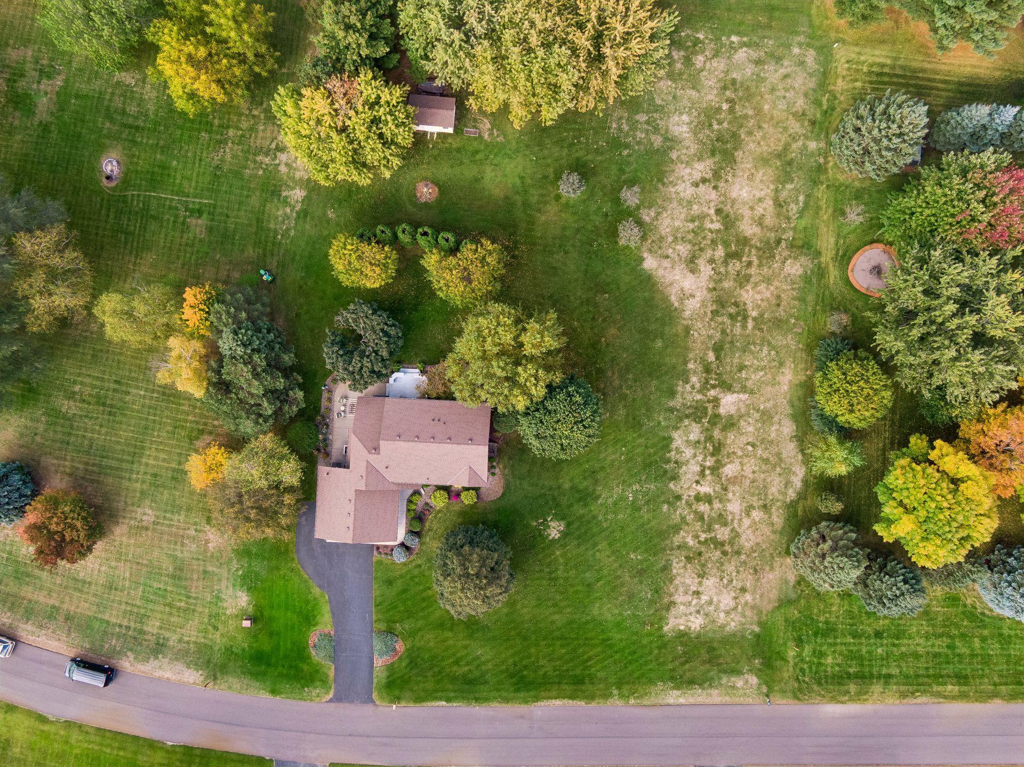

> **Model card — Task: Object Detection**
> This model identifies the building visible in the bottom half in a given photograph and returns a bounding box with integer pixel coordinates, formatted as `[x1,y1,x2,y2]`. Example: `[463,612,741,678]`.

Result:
[314,396,491,544]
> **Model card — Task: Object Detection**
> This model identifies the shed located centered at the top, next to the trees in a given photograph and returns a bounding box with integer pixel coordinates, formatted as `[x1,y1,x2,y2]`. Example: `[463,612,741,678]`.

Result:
[409,94,456,134]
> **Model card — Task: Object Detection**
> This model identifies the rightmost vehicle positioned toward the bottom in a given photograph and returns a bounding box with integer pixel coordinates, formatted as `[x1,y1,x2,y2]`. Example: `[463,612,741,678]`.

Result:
[64,658,117,691]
